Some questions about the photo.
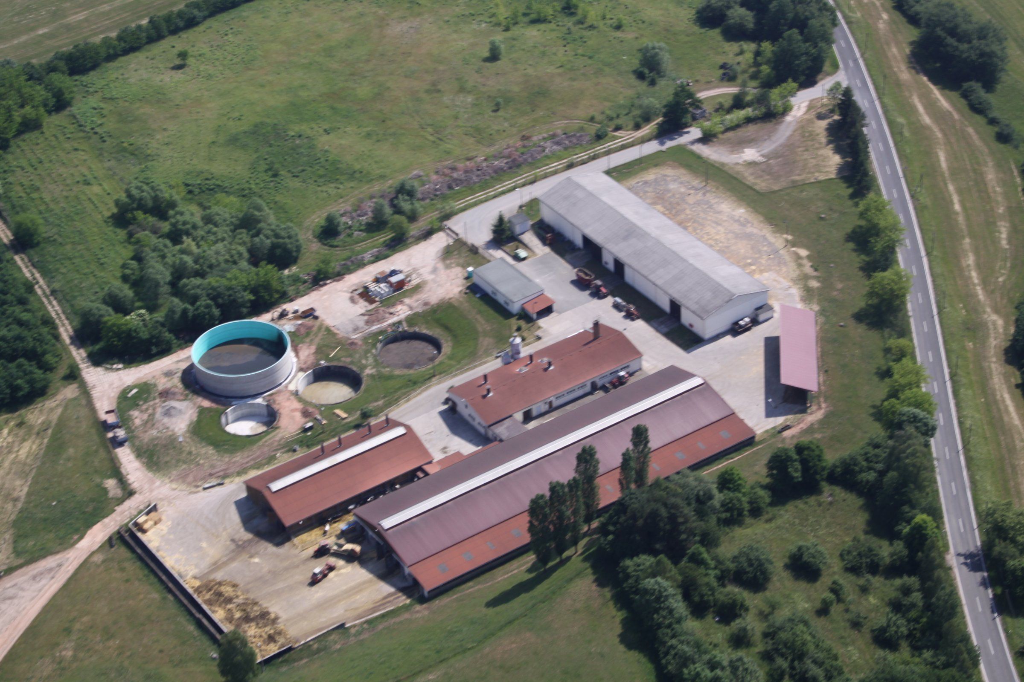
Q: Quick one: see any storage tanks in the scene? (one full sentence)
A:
Yes, the frame does contain a storage tank.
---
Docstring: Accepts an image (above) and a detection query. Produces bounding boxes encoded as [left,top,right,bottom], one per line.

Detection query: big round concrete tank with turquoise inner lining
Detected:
[191,319,300,401]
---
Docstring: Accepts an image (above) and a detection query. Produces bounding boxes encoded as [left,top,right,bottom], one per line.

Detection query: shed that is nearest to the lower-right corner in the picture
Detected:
[780,304,818,405]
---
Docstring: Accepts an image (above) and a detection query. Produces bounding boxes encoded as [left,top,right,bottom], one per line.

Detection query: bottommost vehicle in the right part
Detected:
[605,370,630,390]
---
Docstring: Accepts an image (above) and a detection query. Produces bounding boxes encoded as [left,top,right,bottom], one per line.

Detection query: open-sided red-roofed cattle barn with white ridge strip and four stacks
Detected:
[245,414,435,538]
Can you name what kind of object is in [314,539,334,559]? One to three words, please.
work vehicle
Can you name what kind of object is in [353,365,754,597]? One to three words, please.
barn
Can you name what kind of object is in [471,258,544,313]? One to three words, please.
building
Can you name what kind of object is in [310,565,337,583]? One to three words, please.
work vehicle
